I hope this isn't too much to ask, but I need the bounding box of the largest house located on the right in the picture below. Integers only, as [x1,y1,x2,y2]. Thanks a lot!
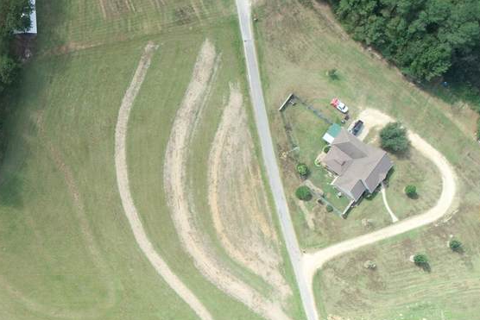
[316,126,394,203]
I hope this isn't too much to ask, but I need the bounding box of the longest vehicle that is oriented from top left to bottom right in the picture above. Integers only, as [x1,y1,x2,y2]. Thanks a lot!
[330,97,349,113]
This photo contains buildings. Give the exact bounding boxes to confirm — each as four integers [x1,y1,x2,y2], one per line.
[17,0,36,33]
[316,126,394,203]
